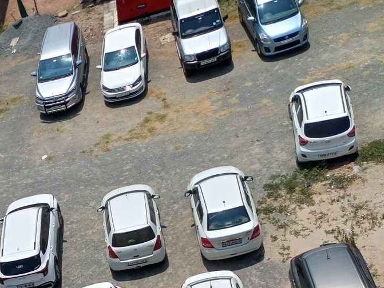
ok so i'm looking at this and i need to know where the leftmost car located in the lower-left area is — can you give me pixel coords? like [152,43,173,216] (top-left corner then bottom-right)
[0,193,61,288]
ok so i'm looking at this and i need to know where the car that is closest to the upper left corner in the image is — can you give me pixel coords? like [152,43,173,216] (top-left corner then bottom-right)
[28,17,89,113]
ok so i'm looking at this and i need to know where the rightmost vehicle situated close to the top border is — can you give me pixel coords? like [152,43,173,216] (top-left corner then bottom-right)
[237,0,312,58]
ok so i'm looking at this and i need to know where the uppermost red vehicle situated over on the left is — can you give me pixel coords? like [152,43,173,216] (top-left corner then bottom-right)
[113,0,167,29]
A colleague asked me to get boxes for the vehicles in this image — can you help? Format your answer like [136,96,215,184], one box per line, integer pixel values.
[0,193,61,288]
[283,77,357,164]
[282,248,371,288]
[28,17,89,113]
[93,24,150,103]
[179,161,259,260]
[113,0,167,29]
[93,178,165,271]
[166,0,232,74]
[237,0,312,58]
